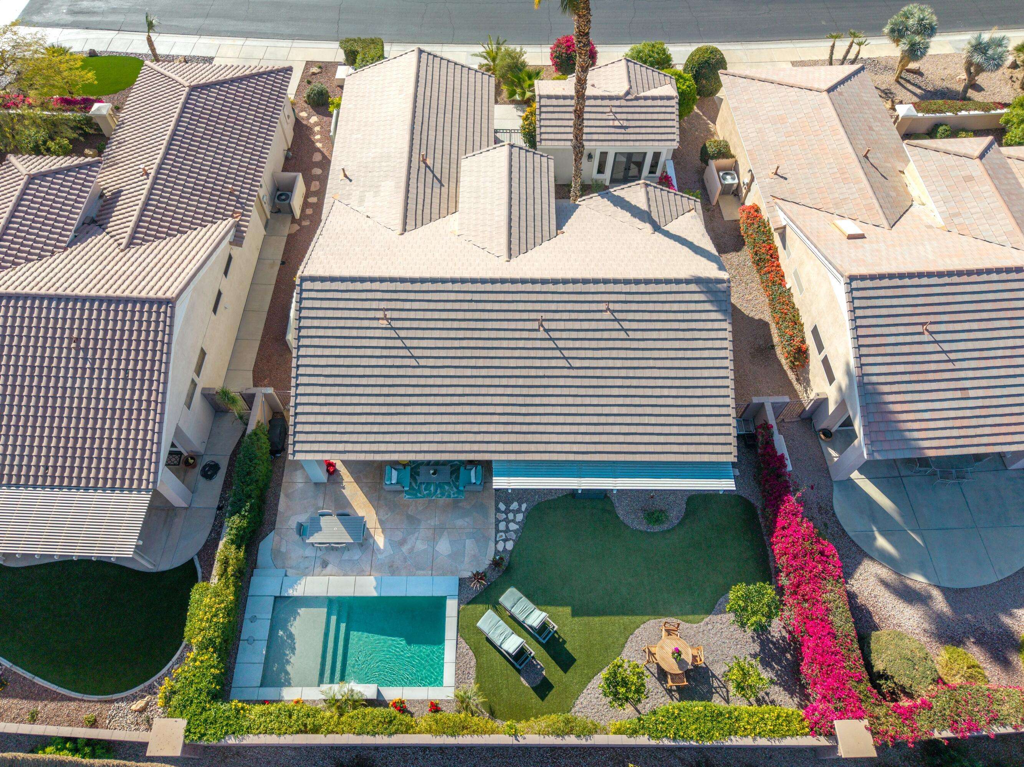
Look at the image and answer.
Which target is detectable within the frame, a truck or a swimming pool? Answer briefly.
swimming pool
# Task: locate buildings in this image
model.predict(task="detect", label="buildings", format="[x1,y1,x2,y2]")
[0,58,301,508]
[287,49,739,482]
[717,61,1024,480]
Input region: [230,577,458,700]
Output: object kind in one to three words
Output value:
swimming pool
